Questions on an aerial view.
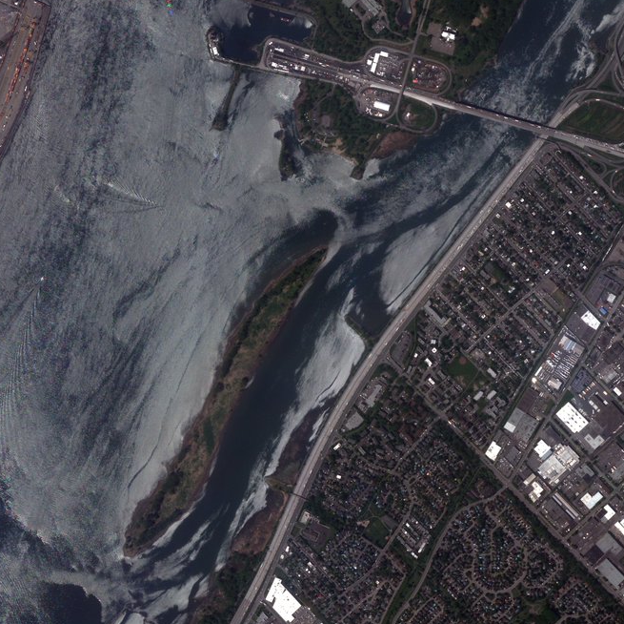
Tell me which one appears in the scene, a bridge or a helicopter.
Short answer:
bridge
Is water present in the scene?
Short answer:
Yes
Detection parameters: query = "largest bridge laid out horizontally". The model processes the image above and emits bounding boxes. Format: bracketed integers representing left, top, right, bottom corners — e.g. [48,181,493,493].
[423,100,616,153]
